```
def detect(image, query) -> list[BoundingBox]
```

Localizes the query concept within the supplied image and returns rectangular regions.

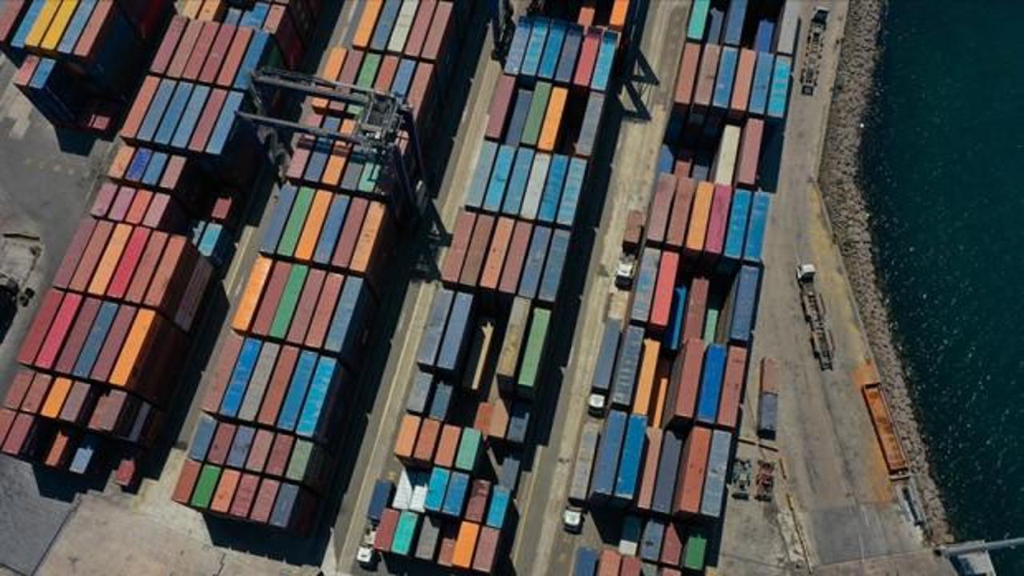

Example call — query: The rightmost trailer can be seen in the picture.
[860,378,906,481]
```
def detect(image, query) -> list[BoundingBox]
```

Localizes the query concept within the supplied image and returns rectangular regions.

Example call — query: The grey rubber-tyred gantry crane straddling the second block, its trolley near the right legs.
[234,62,438,225]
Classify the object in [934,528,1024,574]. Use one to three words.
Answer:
pier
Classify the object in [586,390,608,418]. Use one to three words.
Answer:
truck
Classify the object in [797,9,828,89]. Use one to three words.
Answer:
truck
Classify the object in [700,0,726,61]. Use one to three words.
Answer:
shipping container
